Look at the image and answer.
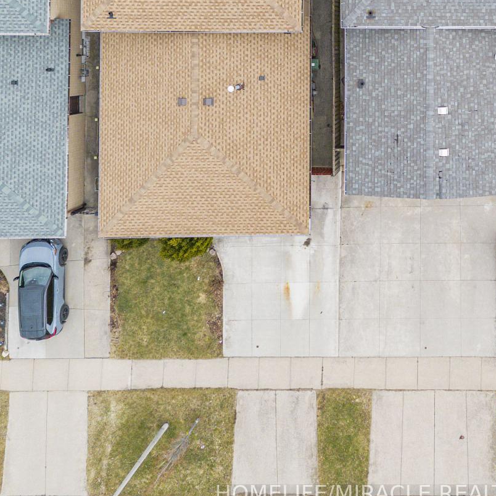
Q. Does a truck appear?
No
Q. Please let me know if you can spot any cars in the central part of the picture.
No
